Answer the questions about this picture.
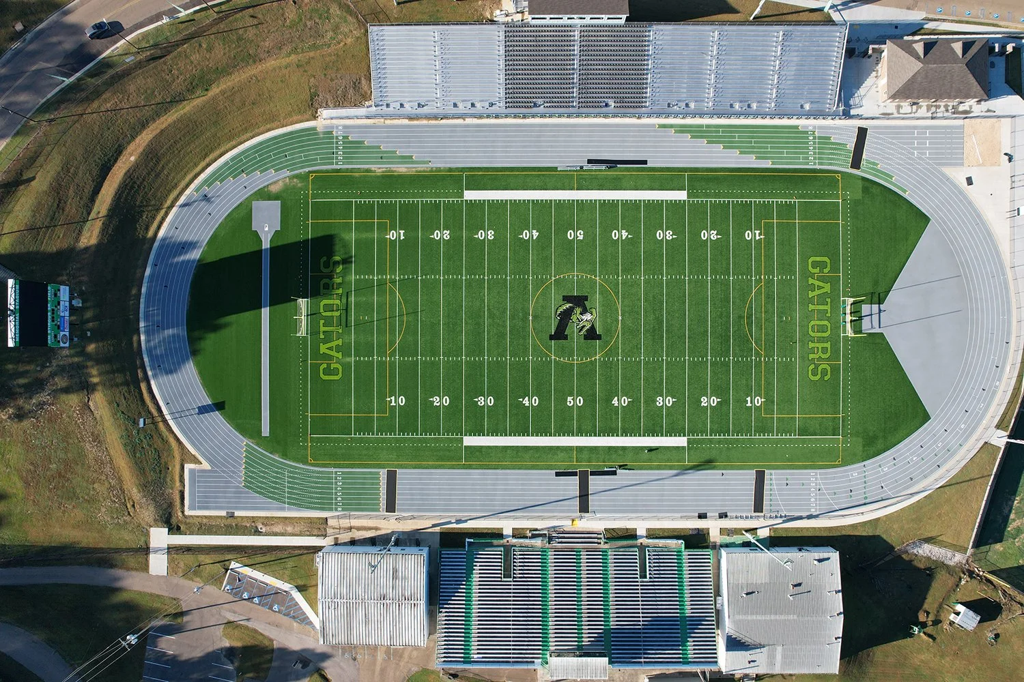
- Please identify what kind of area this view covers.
sports ground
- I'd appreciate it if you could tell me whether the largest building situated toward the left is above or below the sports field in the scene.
below it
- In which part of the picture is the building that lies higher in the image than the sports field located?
top right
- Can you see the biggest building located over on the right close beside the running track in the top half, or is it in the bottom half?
bottom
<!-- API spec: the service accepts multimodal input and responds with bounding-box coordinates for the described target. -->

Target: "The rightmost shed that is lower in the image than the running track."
[944,598,982,631]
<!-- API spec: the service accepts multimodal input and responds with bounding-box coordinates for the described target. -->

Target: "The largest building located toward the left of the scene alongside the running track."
[318,546,429,646]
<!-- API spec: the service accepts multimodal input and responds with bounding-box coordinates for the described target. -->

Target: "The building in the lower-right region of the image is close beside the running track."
[719,547,853,674]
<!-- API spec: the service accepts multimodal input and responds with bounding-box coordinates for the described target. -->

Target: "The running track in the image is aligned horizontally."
[145,124,1011,512]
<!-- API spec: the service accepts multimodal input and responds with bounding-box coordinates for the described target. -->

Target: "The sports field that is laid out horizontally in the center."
[190,168,929,468]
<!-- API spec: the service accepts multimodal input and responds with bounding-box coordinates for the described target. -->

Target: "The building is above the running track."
[881,39,988,103]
